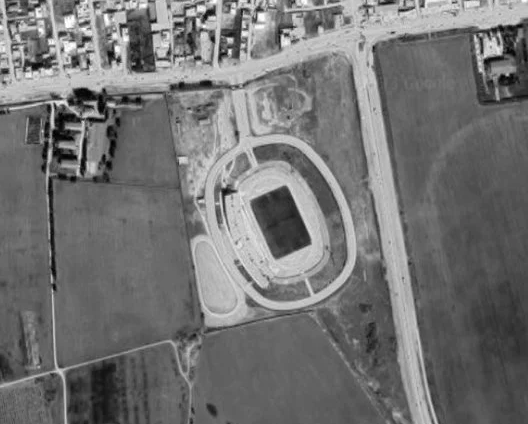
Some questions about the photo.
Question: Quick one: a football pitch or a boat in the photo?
football pitch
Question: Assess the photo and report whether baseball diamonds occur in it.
No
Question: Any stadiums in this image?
Yes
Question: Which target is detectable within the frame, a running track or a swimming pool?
running track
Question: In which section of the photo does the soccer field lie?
center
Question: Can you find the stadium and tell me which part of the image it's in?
center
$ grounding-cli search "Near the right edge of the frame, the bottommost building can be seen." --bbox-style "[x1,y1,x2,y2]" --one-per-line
[491,60,517,75]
